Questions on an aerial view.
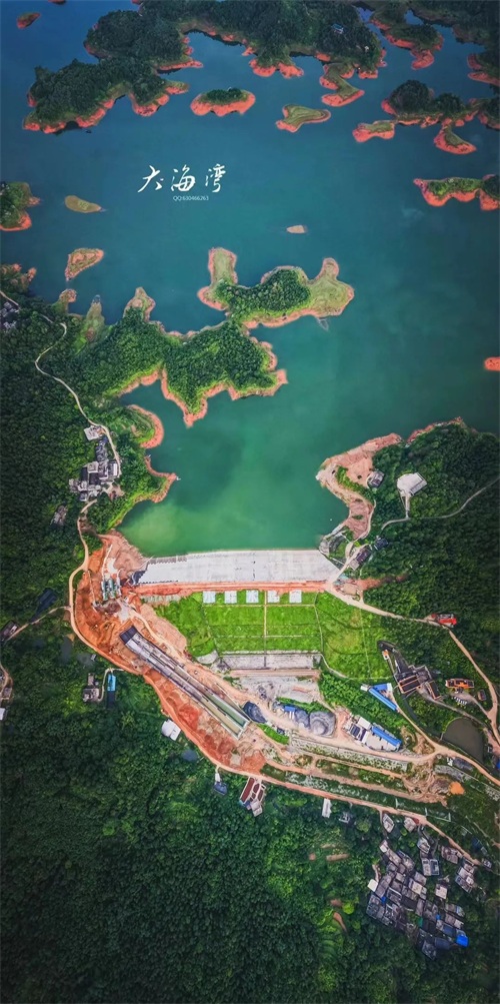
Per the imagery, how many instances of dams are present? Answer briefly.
one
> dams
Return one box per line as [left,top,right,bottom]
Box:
[137,549,340,654]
